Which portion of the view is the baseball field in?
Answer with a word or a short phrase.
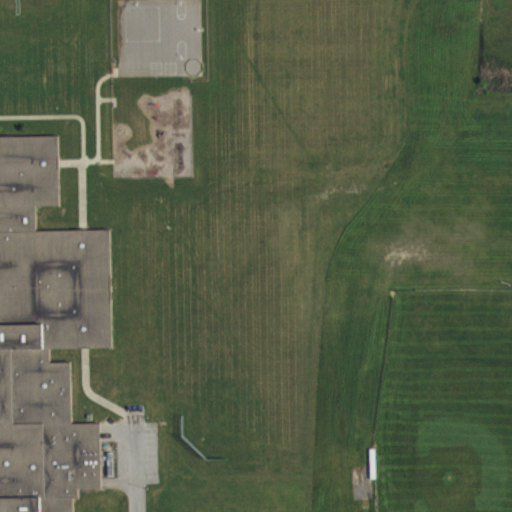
bottom right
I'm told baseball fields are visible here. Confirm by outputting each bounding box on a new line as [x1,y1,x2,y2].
[374,292,512,512]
